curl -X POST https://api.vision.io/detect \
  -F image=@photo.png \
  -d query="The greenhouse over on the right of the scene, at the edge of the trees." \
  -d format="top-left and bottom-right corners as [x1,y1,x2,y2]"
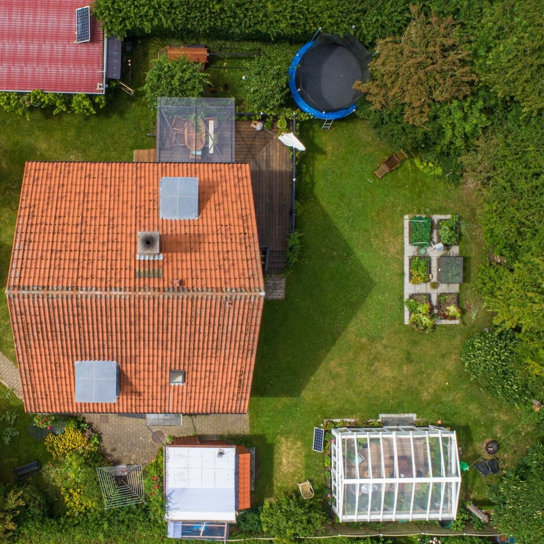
[331,426,464,523]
